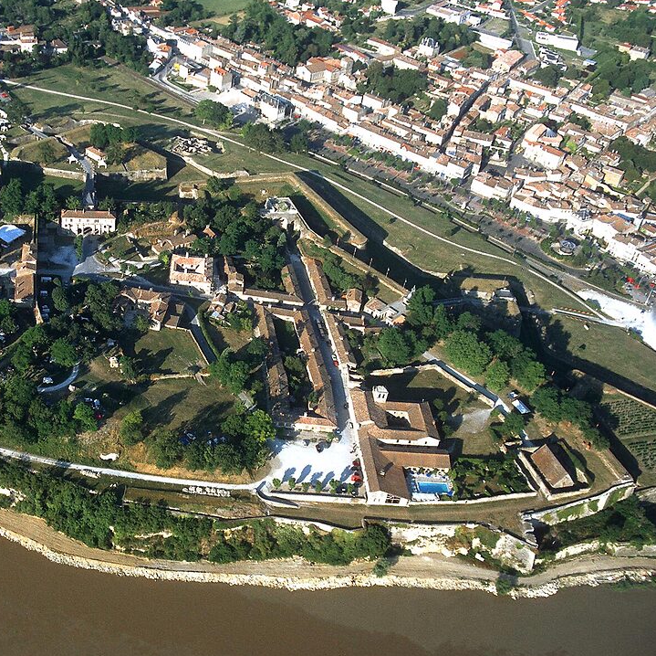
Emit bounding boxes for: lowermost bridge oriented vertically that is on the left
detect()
[81,164,97,213]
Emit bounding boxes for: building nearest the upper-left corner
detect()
[3,30,34,56]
